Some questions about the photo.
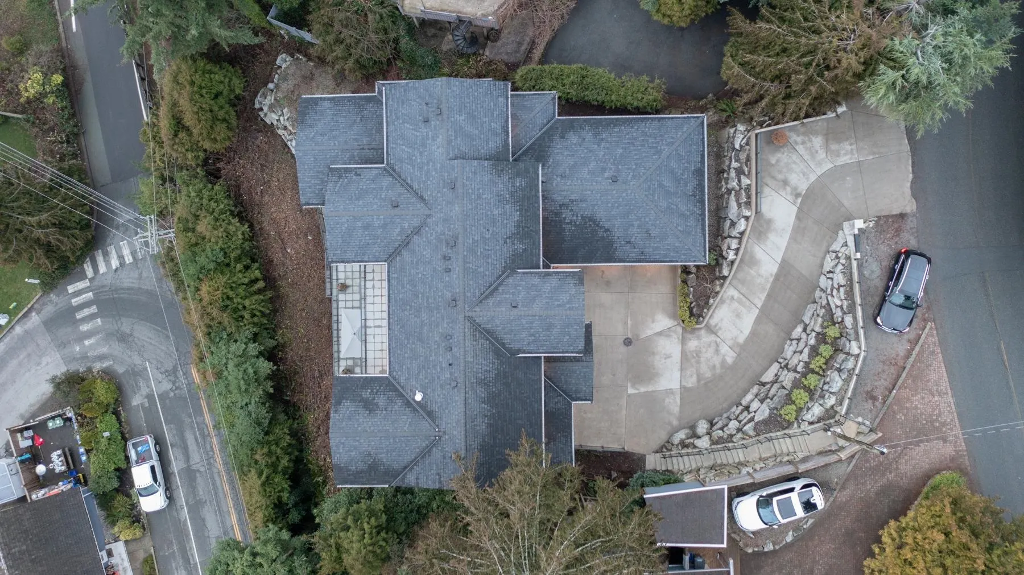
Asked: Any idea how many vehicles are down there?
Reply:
three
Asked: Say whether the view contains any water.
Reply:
No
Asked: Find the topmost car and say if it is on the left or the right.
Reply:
right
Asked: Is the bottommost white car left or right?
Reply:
right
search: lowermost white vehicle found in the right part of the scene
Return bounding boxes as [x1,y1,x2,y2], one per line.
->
[731,475,825,531]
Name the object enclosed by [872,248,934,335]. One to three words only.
car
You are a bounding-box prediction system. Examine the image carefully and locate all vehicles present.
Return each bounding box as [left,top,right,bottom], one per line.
[872,248,934,335]
[731,475,825,531]
[123,432,172,510]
